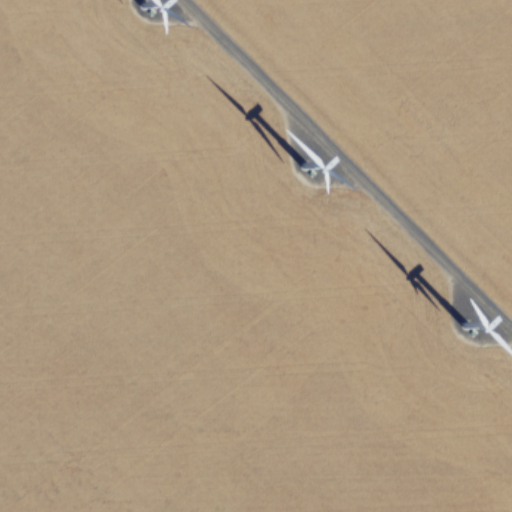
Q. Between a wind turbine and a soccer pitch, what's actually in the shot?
wind turbine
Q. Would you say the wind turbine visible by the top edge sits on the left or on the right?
left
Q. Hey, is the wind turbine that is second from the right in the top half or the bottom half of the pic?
top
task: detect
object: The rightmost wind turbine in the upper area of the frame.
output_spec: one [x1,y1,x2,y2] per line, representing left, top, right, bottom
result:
[287,128,358,193]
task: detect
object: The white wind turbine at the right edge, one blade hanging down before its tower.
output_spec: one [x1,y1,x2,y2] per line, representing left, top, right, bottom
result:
[460,300,512,354]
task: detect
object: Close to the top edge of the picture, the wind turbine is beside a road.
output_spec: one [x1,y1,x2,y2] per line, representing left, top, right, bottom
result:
[138,0,194,32]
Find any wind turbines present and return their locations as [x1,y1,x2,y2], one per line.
[287,128,358,193]
[138,0,194,32]
[460,300,512,354]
